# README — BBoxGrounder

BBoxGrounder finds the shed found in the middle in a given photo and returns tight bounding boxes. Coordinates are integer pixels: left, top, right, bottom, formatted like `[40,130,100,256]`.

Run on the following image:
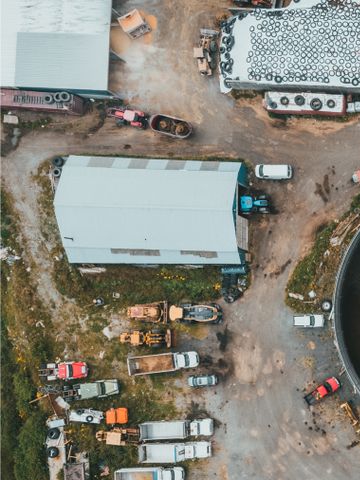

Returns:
[54,155,251,267]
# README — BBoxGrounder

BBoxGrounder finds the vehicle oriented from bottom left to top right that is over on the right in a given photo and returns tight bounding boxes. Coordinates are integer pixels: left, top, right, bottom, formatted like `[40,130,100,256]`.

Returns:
[303,374,343,406]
